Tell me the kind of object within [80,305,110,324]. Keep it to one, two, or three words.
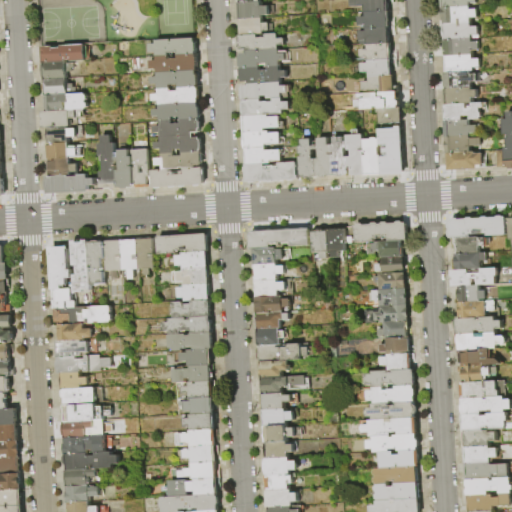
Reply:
building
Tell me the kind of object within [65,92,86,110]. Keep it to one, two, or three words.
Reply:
building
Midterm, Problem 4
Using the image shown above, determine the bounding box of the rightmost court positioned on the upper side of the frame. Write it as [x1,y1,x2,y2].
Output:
[159,0,194,34]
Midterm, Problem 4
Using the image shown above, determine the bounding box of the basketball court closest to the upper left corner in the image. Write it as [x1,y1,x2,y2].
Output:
[42,4,102,42]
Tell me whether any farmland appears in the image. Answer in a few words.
No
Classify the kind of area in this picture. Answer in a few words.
residential area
